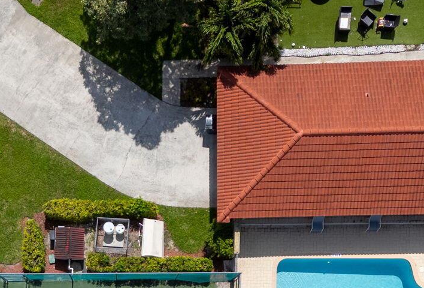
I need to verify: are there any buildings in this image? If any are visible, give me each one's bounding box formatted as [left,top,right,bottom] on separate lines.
[55,227,85,277]
[216,60,424,224]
